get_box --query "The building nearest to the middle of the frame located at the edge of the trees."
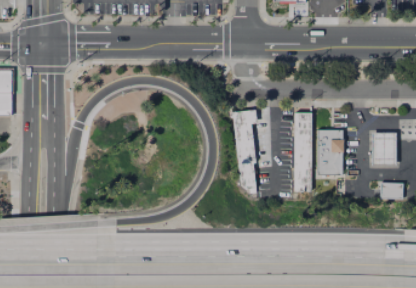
[234,110,258,194]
